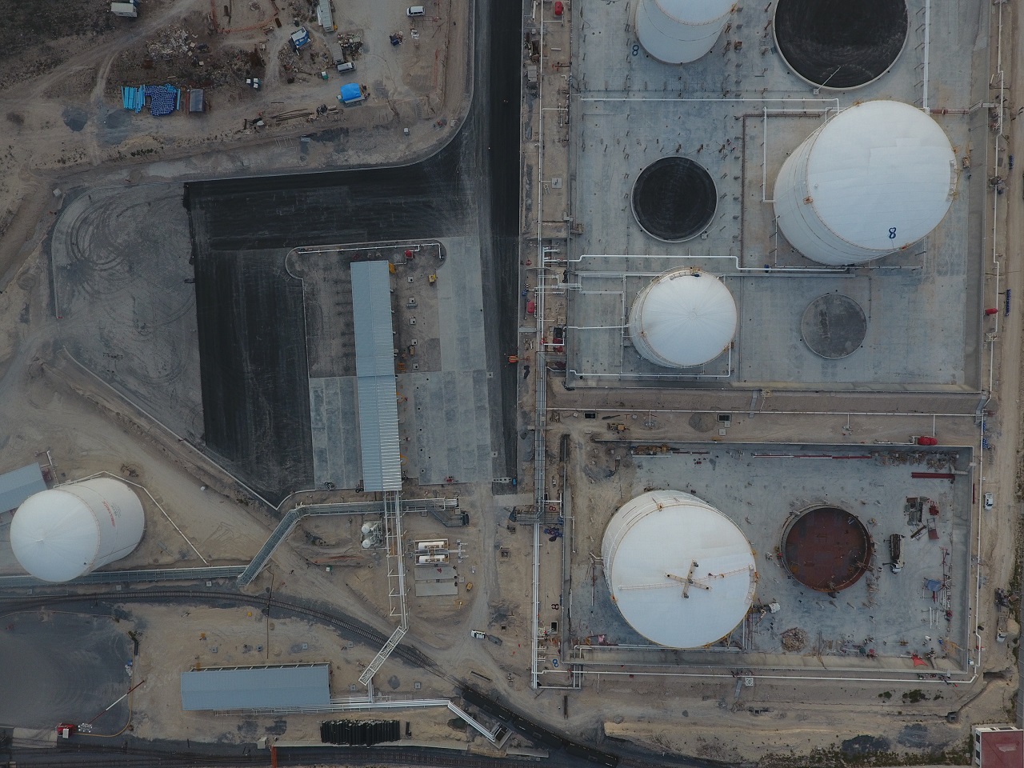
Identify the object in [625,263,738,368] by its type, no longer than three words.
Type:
storage tank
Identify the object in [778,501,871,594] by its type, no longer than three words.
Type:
storage tank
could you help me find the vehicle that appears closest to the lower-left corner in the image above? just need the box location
[118,463,141,483]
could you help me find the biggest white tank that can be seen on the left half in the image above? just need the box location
[6,477,148,582]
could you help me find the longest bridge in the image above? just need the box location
[359,620,412,686]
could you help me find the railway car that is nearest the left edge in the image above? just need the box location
[460,686,513,729]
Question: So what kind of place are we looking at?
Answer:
industrial area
